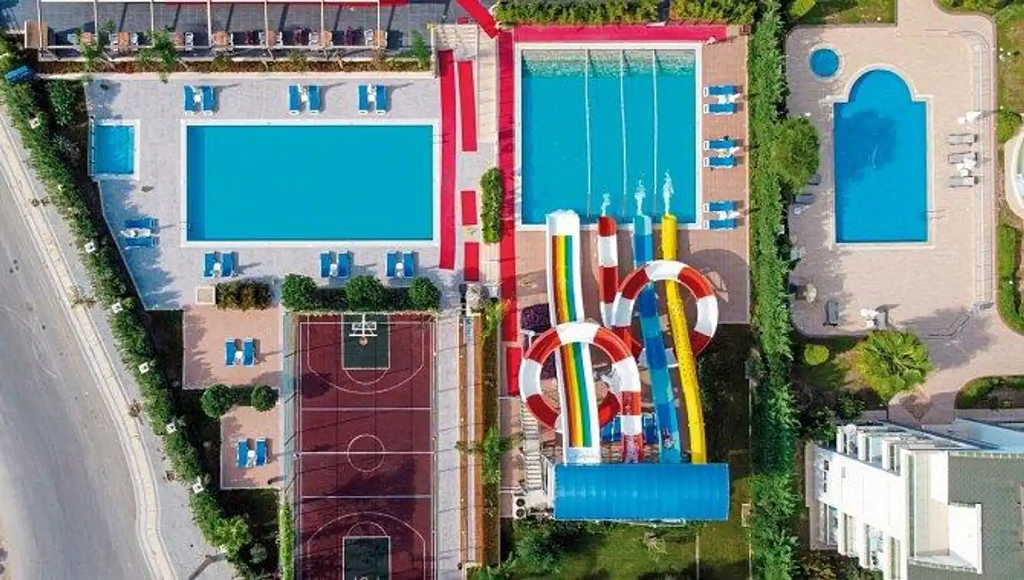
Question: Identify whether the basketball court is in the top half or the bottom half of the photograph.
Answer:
bottom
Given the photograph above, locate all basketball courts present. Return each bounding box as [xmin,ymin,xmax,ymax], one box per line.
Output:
[294,314,436,580]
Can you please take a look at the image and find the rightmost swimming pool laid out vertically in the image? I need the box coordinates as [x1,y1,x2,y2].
[1003,124,1024,219]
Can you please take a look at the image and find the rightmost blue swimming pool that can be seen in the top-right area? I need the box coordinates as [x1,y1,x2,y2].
[829,63,939,249]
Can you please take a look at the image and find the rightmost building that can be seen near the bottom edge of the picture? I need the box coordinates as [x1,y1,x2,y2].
[815,417,1024,580]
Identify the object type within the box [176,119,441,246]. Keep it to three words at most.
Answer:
swimming pool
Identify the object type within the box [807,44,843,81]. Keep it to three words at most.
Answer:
swimming pool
